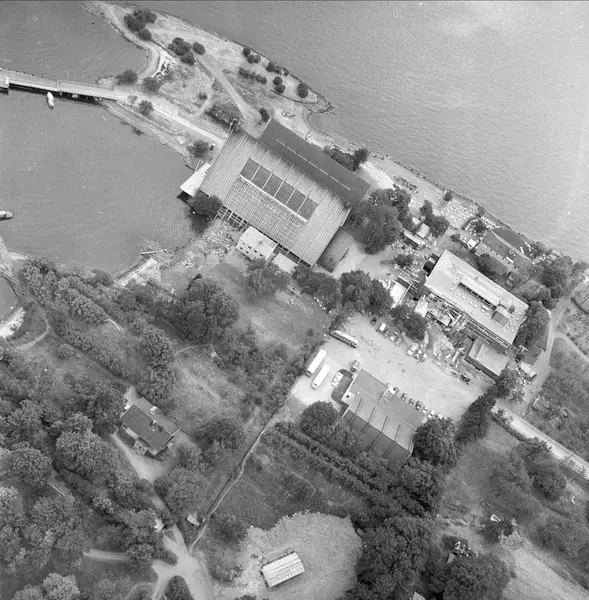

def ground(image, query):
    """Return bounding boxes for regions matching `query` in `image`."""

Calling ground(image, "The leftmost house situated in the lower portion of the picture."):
[121,397,179,456]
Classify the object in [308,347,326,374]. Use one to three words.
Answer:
vehicle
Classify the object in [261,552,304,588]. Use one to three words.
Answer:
barn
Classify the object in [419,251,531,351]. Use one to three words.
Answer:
building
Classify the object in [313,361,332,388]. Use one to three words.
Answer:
vehicle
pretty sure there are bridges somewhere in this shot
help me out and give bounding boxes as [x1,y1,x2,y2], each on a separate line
[0,68,106,102]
